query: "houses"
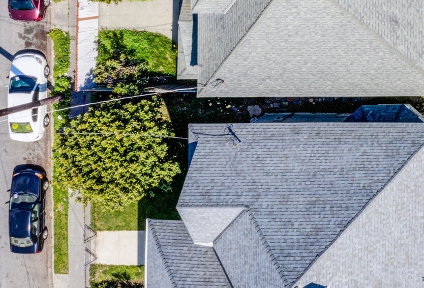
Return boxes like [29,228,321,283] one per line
[143,101,424,288]
[171,0,424,98]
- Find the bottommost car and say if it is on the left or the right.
left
